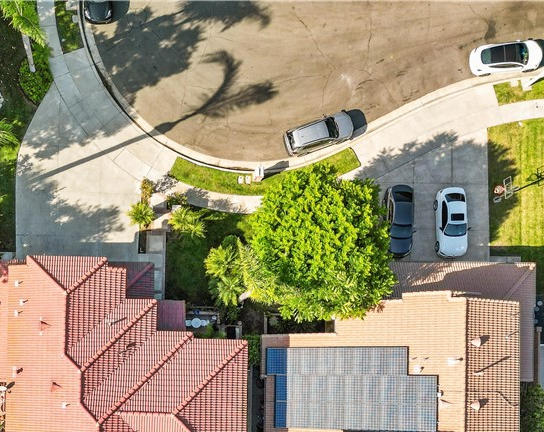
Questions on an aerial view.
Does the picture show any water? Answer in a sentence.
No, water can't be seen anywhere here.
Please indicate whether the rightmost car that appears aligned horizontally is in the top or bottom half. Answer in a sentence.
Seen from above, the rightmost car that appears aligned horizontally lies in the top half of the view.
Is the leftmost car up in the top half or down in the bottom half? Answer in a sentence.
Seen from above, the leftmost car lies in the top half of the view.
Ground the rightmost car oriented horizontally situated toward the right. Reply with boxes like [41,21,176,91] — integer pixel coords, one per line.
[465,37,540,79]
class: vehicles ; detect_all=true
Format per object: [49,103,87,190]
[432,186,472,259]
[82,0,115,28]
[382,184,420,259]
[465,37,540,79]
[280,111,354,159]
[527,45,544,82]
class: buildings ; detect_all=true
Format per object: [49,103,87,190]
[0,253,249,432]
[260,262,537,432]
